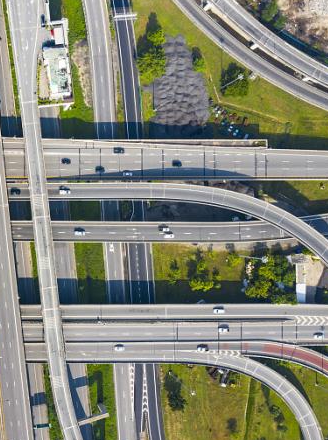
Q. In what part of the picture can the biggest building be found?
top left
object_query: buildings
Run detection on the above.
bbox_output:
[292,262,306,303]
[38,20,74,109]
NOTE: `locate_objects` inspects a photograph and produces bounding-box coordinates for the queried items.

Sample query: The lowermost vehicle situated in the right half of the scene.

[219,367,232,385]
